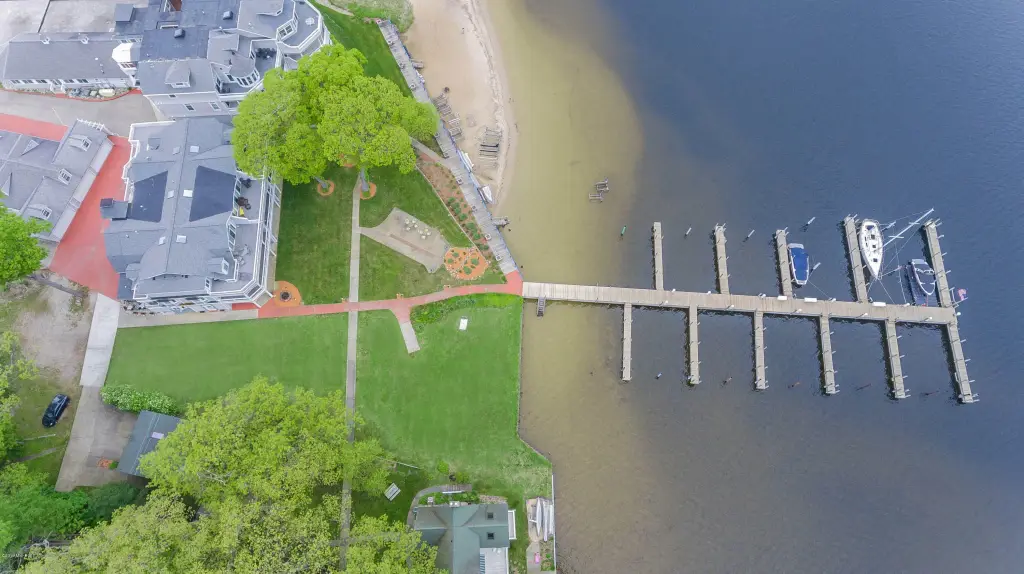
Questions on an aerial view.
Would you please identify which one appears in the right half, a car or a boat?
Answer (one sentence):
Looking in the right half, you will find a boat.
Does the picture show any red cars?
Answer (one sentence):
No, the scene contains no red car.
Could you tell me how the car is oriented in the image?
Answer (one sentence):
The car has been laid out on a diagonal relative to the frame.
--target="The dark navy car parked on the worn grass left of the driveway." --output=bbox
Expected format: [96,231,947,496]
[40,392,71,429]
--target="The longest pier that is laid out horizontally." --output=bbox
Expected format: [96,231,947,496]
[524,215,982,402]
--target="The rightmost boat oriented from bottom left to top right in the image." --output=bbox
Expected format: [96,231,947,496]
[860,206,932,279]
